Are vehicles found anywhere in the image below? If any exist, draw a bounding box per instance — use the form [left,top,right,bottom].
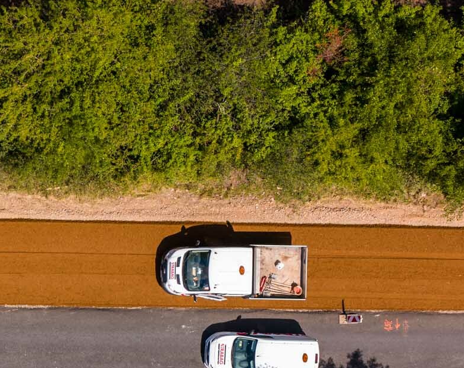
[203,329,318,368]
[159,241,308,305]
